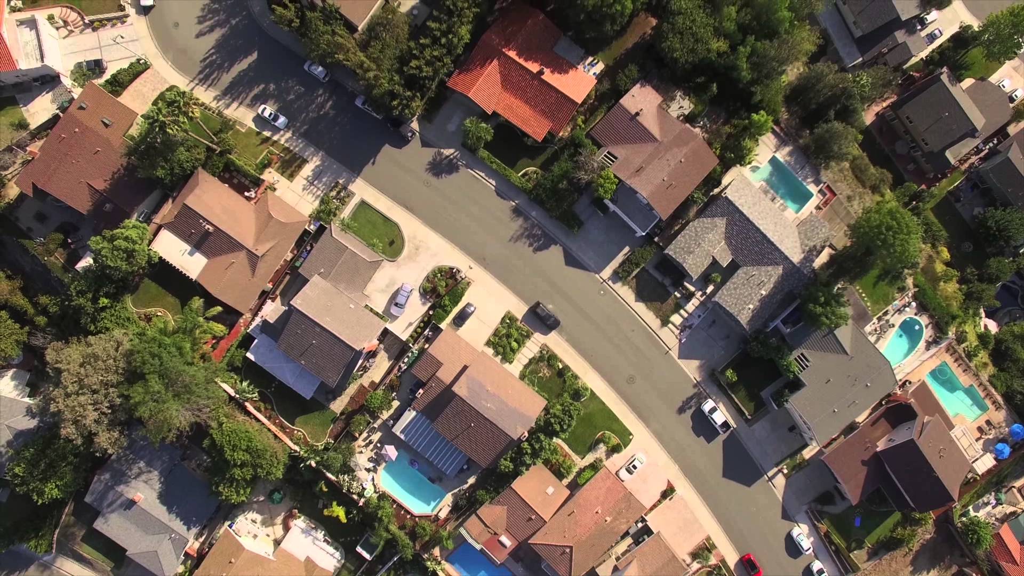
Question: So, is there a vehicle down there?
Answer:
Yes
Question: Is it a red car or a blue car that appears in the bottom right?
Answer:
red car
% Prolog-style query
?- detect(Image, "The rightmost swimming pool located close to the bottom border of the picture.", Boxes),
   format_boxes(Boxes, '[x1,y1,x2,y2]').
[444,535,514,576]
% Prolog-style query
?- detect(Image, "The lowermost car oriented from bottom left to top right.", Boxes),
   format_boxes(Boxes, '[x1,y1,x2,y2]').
[616,451,648,483]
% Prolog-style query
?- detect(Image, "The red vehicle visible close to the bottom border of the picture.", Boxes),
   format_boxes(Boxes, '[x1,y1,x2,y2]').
[739,551,763,576]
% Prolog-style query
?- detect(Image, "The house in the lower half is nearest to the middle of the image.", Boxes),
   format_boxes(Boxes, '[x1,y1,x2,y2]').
[393,326,545,475]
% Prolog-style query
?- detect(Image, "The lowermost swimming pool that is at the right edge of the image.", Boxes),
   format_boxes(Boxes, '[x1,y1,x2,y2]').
[925,359,993,425]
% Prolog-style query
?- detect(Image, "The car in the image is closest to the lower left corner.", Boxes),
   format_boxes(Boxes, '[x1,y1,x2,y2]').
[390,280,413,318]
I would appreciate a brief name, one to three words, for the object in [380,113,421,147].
truck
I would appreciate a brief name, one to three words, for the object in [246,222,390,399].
house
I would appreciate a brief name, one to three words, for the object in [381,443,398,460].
umbrella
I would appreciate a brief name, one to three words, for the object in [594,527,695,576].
house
